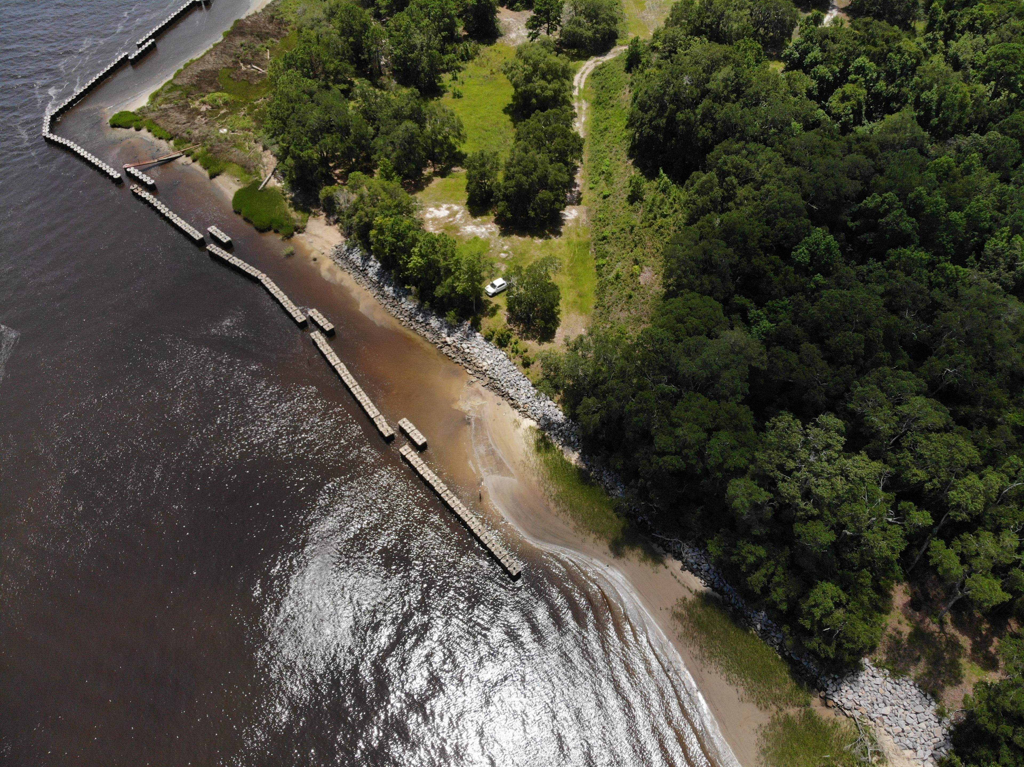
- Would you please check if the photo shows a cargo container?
No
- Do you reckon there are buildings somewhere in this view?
No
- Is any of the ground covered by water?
Yes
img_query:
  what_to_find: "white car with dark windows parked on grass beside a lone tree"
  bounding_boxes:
[487,279,509,295]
